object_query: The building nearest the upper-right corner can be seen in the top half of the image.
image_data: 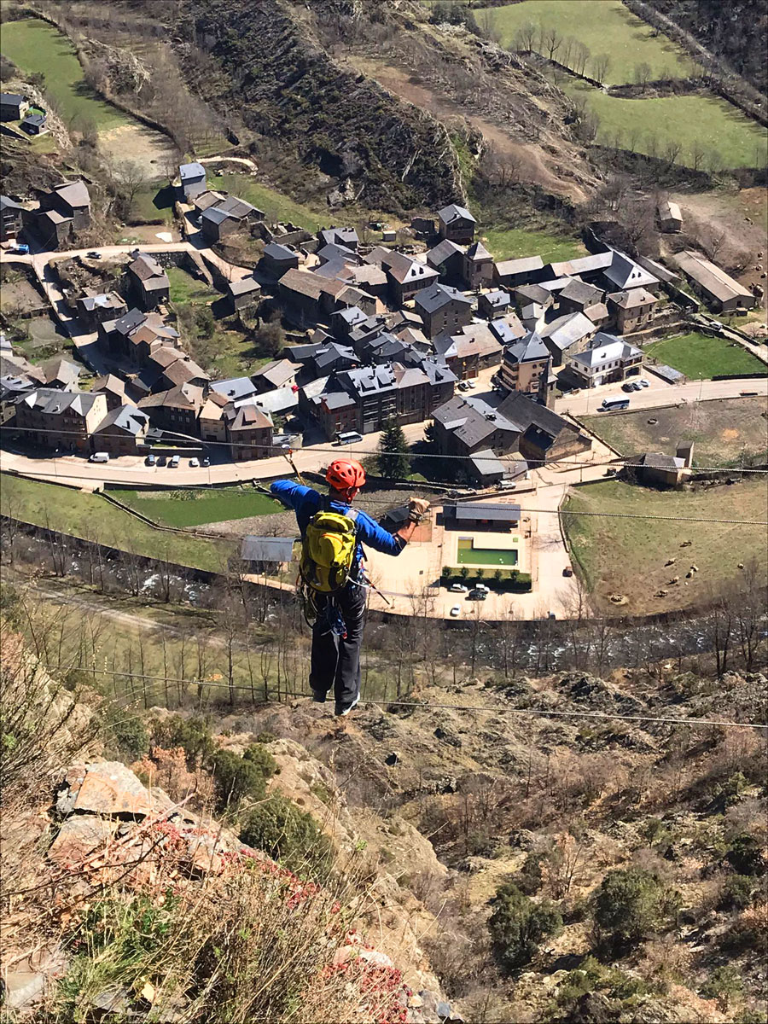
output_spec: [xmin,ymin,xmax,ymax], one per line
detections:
[659,202,683,241]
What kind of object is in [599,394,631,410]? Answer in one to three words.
vehicle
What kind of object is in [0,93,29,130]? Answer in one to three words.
house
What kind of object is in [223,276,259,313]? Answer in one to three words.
shed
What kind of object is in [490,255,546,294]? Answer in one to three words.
barn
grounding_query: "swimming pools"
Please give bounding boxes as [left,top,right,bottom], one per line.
[454,534,521,567]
